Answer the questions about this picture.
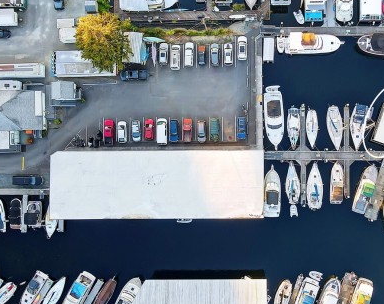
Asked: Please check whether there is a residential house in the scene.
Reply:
Yes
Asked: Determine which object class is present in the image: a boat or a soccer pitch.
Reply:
boat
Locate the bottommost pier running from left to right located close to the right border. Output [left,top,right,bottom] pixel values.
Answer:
[263,143,384,167]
